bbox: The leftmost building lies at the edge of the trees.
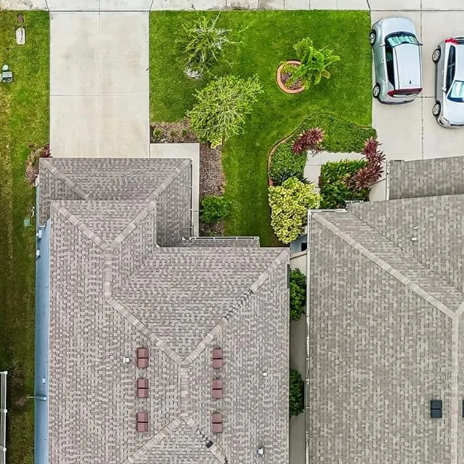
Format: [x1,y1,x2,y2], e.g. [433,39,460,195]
[29,157,289,464]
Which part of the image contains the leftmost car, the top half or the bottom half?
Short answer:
top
